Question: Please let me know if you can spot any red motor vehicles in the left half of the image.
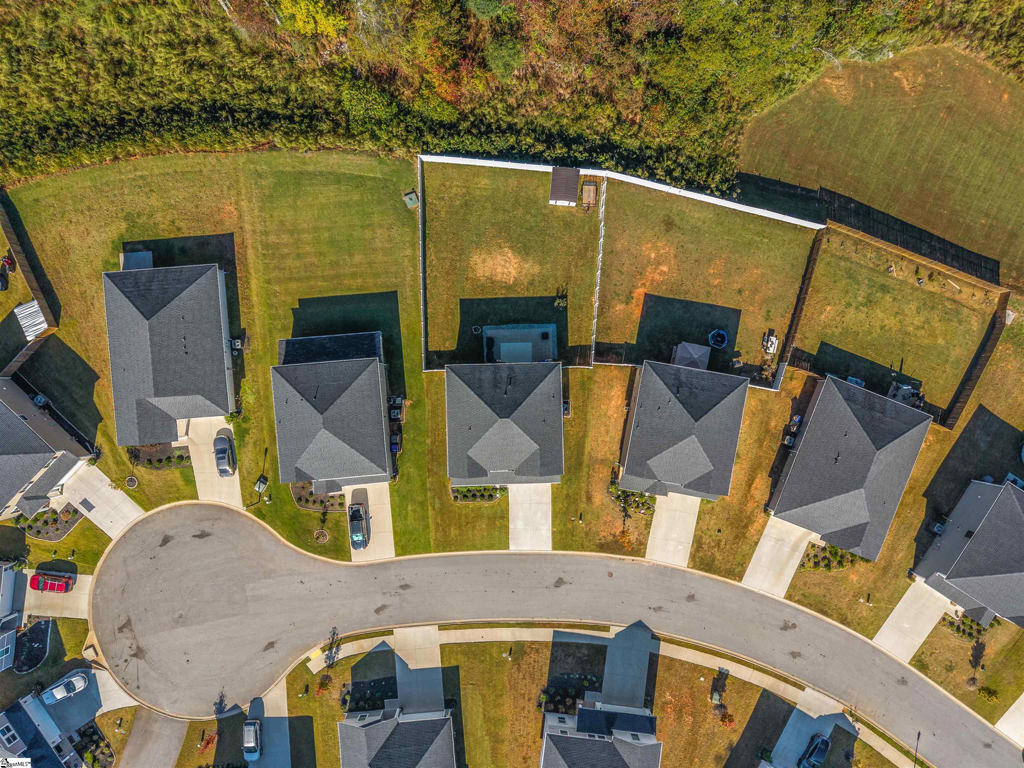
Yes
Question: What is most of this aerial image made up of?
grass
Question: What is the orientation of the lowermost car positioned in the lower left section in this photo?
up and down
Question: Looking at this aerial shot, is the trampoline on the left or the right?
right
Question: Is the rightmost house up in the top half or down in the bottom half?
bottom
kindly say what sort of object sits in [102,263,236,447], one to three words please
house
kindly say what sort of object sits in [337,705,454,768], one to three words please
house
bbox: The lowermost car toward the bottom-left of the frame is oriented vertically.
[242,718,263,760]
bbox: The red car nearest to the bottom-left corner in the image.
[31,573,76,594]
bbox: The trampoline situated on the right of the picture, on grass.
[709,328,731,349]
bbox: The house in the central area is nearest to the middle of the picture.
[445,362,564,487]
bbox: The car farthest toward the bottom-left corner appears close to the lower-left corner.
[43,671,89,706]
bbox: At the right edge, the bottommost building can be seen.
[904,480,1024,641]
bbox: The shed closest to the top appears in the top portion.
[549,167,580,206]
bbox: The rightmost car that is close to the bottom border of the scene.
[796,734,829,768]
